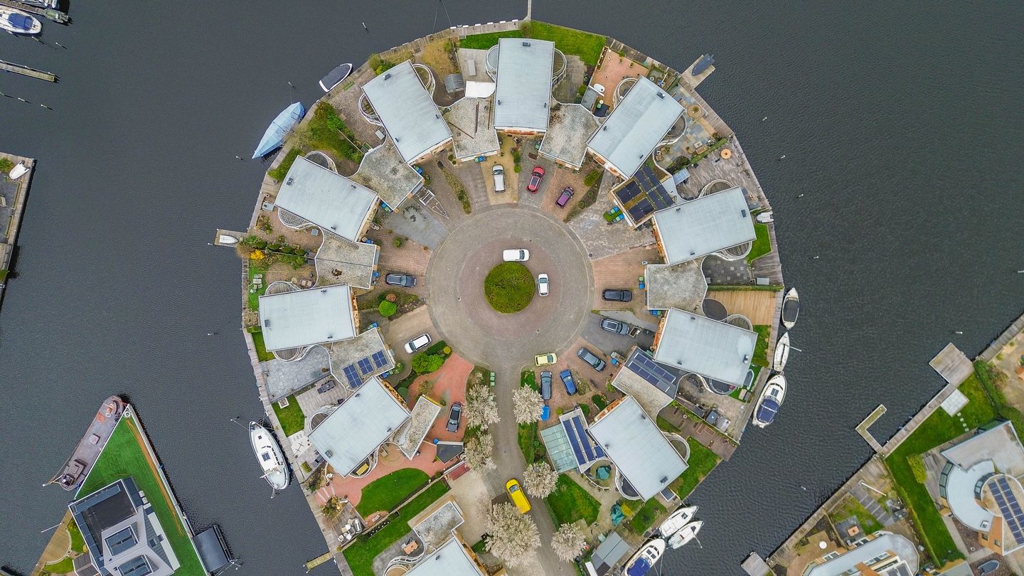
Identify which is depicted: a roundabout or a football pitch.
roundabout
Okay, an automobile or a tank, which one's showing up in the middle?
automobile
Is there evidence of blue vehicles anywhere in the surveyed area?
Yes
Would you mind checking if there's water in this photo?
Yes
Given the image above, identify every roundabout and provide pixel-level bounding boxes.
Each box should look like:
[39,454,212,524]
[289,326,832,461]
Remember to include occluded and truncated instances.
[425,202,595,371]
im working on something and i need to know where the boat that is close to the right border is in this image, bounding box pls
[975,560,1000,575]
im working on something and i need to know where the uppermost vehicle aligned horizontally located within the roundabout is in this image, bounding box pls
[503,248,530,261]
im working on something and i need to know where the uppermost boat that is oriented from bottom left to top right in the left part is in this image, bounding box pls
[321,64,353,92]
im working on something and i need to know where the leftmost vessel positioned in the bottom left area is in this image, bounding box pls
[56,393,124,517]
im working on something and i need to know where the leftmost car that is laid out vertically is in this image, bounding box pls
[448,402,462,431]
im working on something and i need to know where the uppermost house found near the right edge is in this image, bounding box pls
[936,416,1024,552]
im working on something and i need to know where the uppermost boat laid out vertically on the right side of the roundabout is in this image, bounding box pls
[782,288,799,329]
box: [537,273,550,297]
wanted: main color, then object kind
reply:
white vehicle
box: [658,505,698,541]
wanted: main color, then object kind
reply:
white boat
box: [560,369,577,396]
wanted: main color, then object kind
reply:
blue car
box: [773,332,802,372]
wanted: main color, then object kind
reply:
white boat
